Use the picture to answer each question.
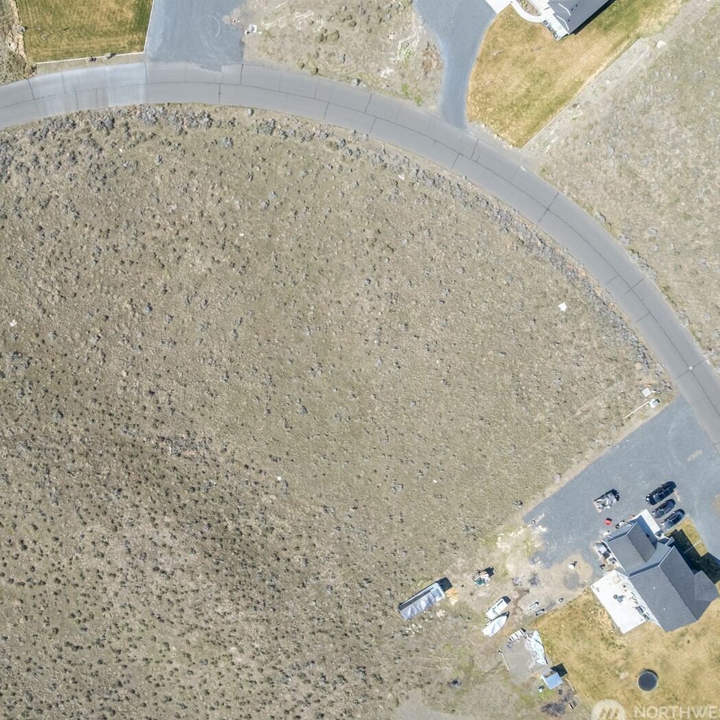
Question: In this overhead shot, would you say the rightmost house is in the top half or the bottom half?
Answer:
bottom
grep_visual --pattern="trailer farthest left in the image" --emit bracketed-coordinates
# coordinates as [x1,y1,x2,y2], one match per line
[399,580,448,619]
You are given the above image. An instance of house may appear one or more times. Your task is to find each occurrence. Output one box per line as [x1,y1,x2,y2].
[602,522,720,633]
[533,0,608,36]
